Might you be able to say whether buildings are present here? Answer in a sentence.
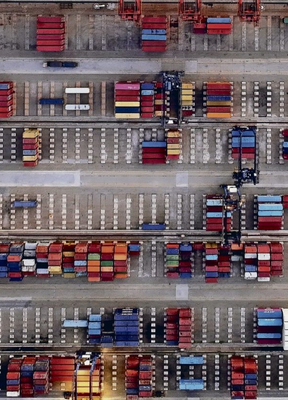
No, I can't see a single building in this photo.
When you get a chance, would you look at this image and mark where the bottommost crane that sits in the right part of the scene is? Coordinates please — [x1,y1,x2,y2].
[215,184,246,249]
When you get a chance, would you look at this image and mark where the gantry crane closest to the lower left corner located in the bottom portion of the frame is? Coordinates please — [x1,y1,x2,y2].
[71,348,103,400]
